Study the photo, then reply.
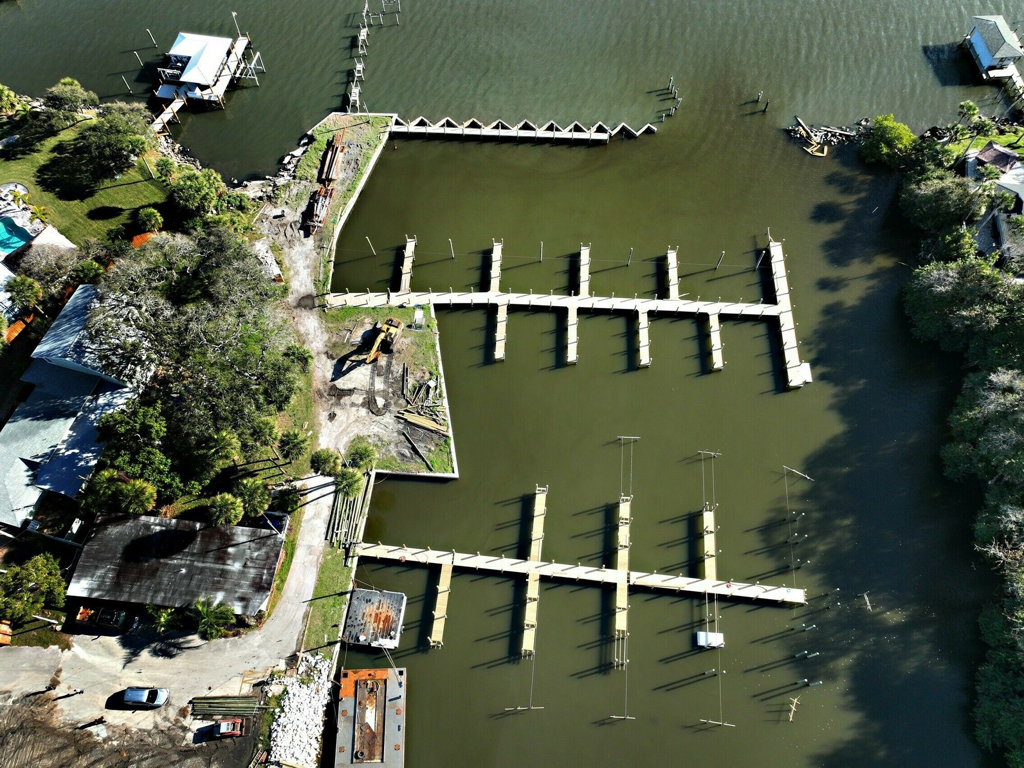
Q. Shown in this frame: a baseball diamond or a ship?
ship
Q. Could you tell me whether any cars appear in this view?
Yes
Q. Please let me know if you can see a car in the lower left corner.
Yes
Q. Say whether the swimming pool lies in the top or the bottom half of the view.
top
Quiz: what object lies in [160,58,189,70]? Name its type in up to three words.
boat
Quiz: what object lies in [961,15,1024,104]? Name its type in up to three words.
building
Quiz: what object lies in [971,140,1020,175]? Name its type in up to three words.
shed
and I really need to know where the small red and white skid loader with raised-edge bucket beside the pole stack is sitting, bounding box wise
[213,717,252,738]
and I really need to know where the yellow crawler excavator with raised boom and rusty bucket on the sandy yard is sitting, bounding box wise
[366,316,409,367]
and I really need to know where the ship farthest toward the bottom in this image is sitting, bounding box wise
[334,668,407,768]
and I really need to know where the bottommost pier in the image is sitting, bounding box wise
[358,486,809,669]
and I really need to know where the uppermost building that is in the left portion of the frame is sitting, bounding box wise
[150,30,253,135]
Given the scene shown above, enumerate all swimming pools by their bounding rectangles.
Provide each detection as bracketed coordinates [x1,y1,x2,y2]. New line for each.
[0,217,34,255]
